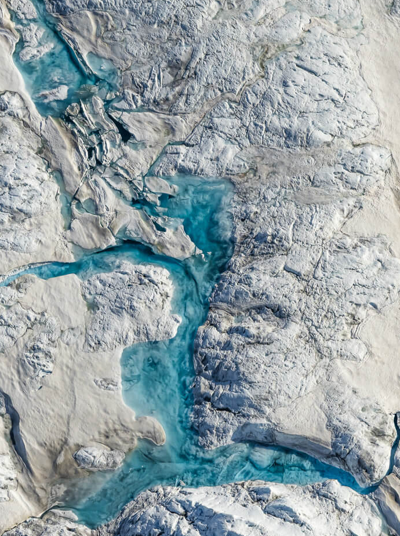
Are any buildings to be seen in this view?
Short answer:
No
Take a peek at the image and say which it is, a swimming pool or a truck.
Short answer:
swimming pool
